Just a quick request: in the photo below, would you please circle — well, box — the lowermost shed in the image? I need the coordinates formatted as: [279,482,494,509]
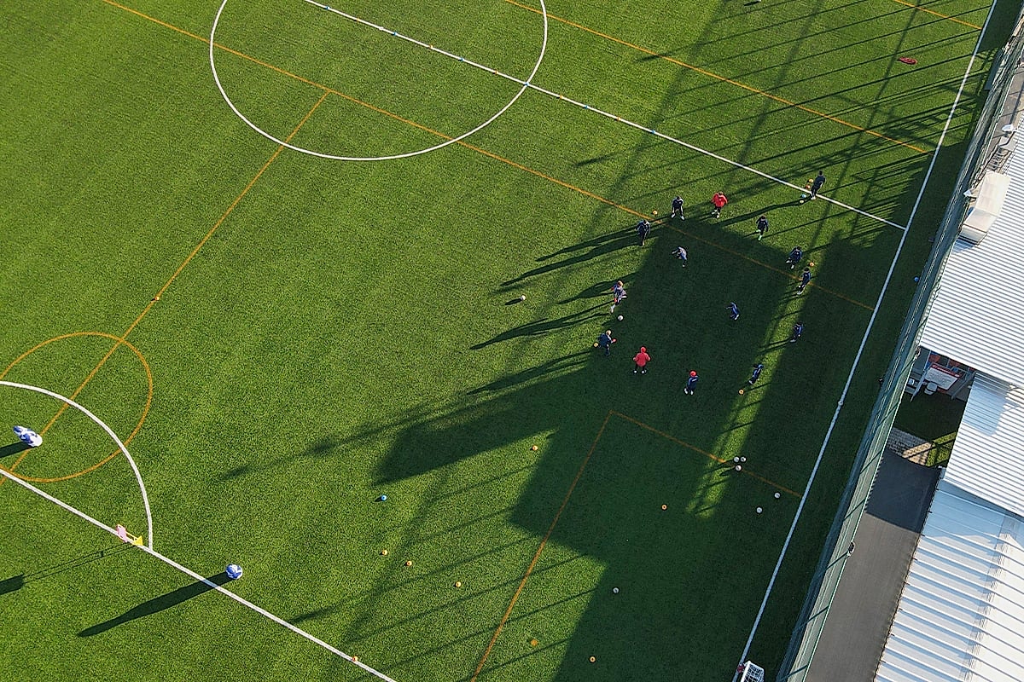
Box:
[877,489,1024,682]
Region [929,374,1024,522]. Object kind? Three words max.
shed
